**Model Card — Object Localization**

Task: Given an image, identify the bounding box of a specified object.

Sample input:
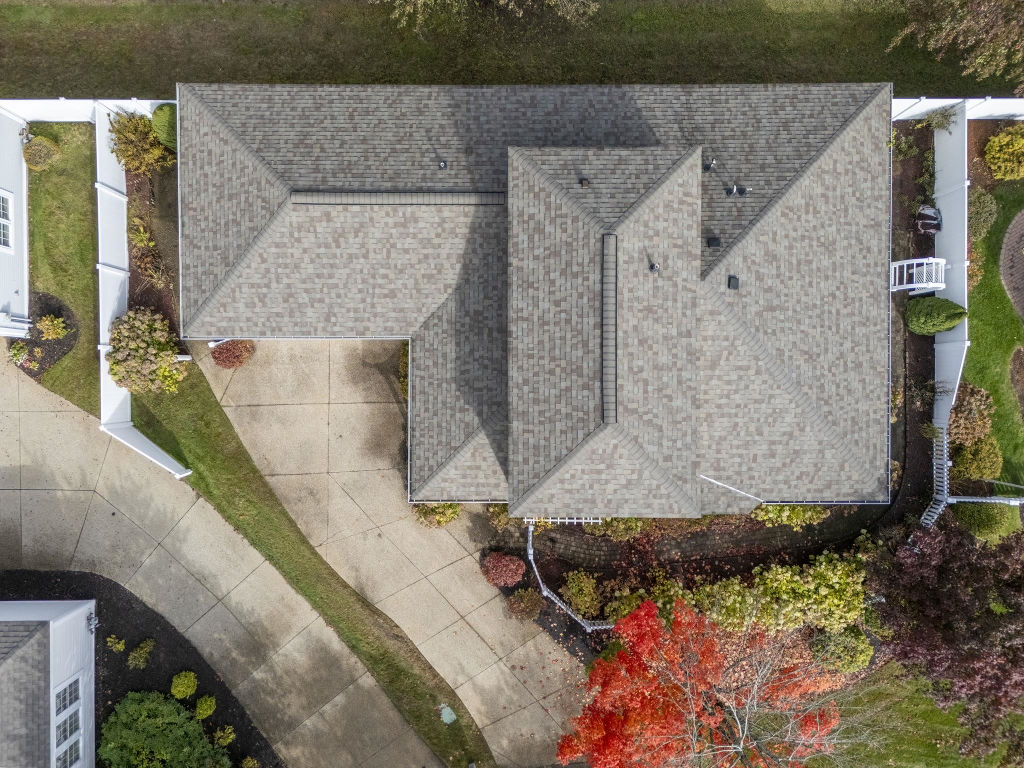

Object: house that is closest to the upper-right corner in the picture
[175,82,895,520]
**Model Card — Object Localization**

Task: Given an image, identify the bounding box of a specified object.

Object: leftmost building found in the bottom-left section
[0,601,98,768]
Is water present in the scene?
No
